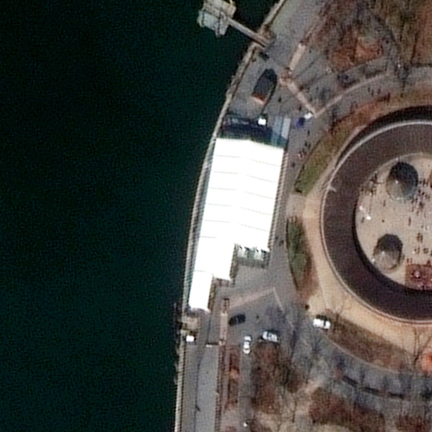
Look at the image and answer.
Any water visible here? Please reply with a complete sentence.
Yes, there is water in the image.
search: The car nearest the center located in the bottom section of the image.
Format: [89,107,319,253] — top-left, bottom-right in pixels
[226,313,246,327]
